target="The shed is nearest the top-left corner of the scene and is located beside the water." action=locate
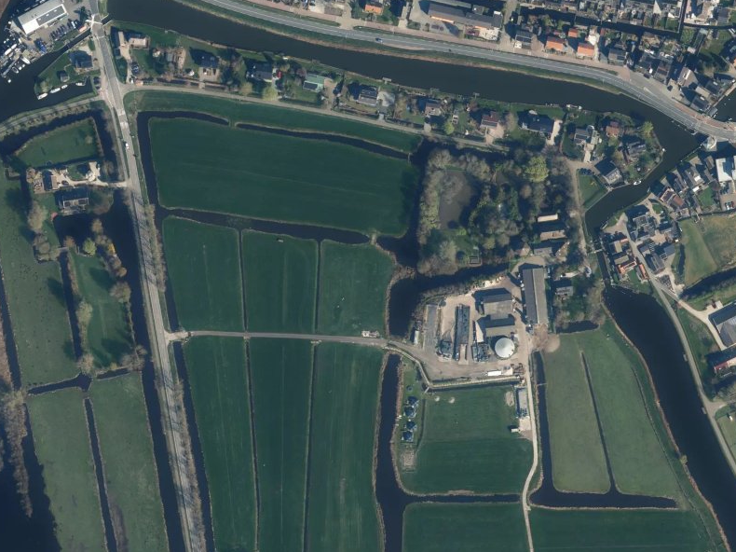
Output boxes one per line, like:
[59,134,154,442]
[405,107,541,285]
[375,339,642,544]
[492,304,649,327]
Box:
[17,0,69,36]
